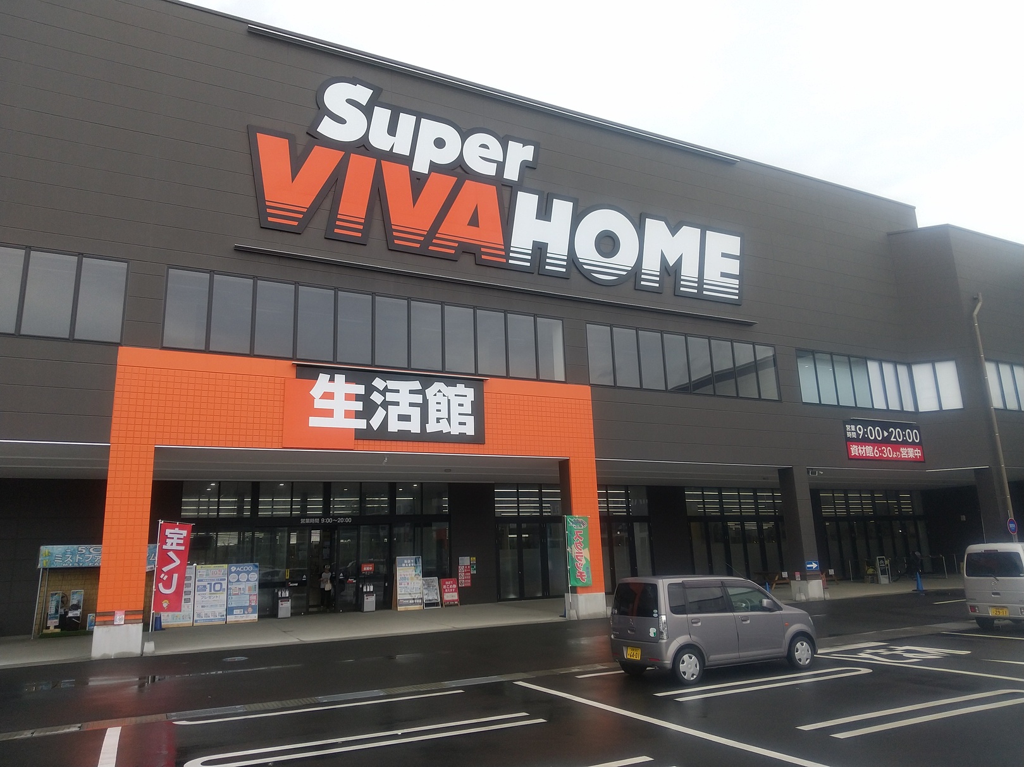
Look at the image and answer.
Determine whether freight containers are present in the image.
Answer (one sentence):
No, there's no freight container here.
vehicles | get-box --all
[608,557,816,685]
[966,522,1024,629]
